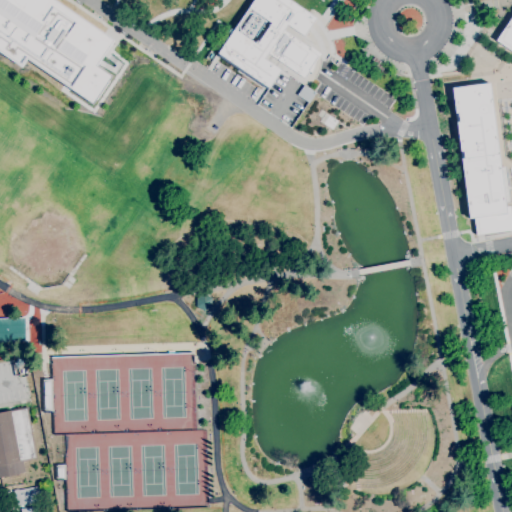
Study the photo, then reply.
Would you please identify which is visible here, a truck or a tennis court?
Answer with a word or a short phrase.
tennis court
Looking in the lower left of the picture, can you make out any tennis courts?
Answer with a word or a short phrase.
Yes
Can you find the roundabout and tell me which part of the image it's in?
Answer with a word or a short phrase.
top right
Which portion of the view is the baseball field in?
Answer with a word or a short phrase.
left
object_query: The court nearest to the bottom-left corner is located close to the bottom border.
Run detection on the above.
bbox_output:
[75,447,102,498]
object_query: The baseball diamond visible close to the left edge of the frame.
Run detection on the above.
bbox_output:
[10,215,86,294]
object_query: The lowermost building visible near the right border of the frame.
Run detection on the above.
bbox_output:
[454,82,512,235]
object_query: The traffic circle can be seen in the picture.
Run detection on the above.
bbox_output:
[369,0,453,60]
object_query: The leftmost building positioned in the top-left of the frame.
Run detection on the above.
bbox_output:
[0,0,114,104]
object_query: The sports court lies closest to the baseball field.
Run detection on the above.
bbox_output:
[0,318,26,342]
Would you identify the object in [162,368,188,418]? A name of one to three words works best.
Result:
tennis court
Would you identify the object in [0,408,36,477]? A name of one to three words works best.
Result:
building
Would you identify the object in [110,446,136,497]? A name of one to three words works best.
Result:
tennis court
